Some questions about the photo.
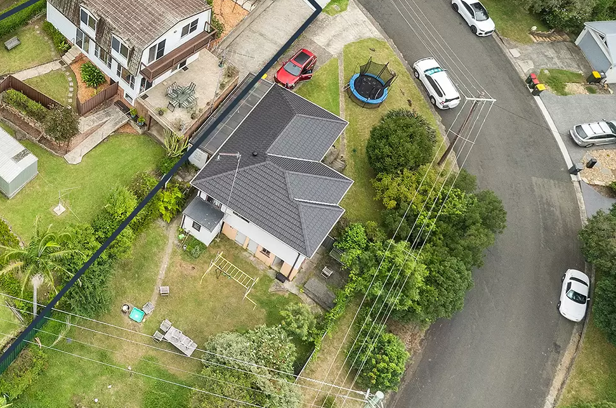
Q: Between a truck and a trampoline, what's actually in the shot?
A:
trampoline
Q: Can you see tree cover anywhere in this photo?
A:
Yes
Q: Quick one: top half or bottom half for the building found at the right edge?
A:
top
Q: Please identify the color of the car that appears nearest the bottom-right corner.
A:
white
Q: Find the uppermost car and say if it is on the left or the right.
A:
right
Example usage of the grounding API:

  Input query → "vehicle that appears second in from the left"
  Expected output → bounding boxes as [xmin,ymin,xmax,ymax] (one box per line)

[411,58,469,114]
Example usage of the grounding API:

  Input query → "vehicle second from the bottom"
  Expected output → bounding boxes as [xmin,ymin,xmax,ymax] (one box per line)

[562,114,616,149]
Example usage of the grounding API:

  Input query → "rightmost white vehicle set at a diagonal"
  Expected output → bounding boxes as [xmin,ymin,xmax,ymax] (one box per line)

[446,0,501,38]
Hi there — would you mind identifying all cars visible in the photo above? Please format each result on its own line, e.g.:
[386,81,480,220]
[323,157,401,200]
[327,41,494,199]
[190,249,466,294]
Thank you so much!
[446,0,501,38]
[411,58,469,114]
[276,45,320,94]
[553,262,596,328]
[562,114,616,149]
